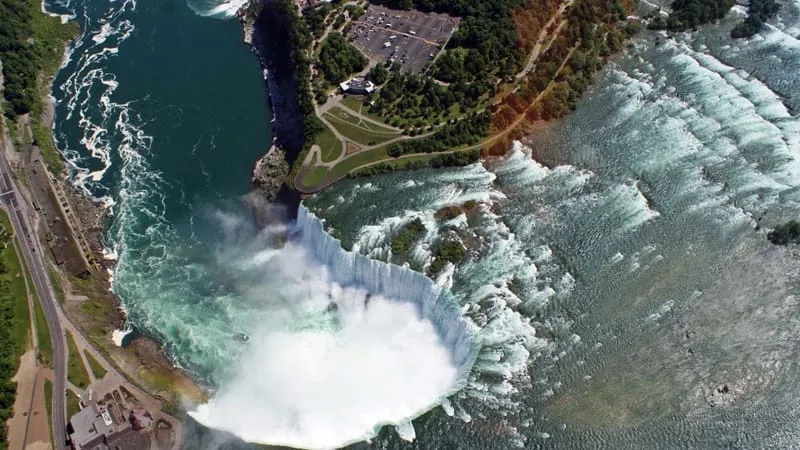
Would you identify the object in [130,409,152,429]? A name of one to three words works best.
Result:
building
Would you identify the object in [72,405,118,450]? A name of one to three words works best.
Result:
building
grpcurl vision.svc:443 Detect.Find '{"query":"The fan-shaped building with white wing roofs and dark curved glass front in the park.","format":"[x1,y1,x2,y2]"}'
[340,78,374,99]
